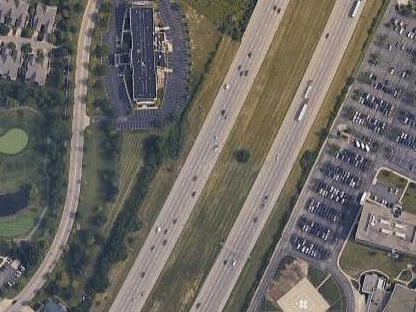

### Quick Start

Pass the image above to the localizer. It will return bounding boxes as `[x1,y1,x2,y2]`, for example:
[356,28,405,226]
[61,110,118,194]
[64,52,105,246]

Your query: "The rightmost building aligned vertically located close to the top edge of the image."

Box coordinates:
[114,3,165,105]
